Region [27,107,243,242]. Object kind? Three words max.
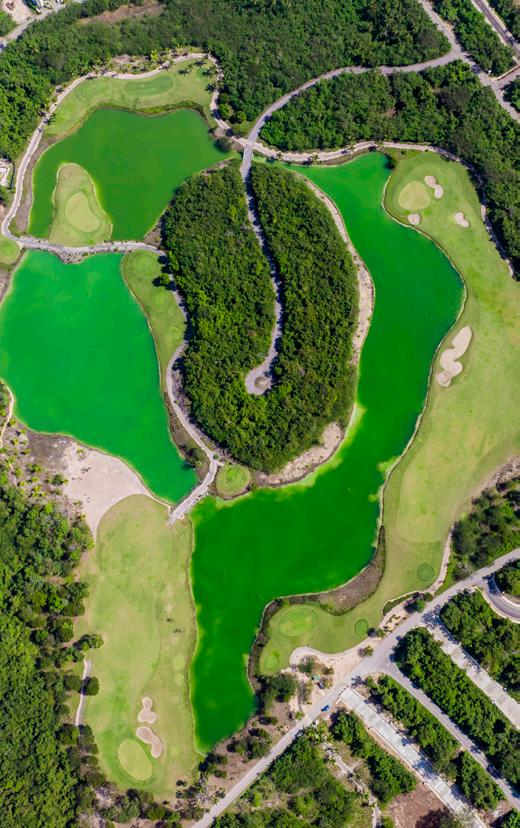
pond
